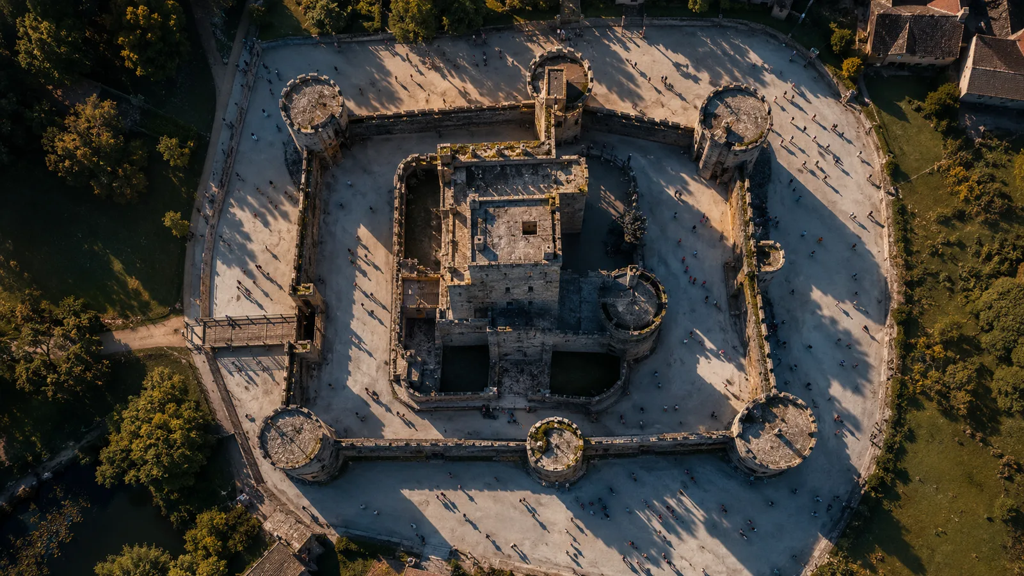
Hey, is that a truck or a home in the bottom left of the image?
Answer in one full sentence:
What appears in the bottom left of the image is a home.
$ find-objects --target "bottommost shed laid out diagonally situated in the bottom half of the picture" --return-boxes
[263,507,326,566]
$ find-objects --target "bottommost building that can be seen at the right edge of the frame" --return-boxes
[957,58,1024,115]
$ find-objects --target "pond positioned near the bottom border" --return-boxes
[0,442,203,576]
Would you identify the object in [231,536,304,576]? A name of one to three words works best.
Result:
house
